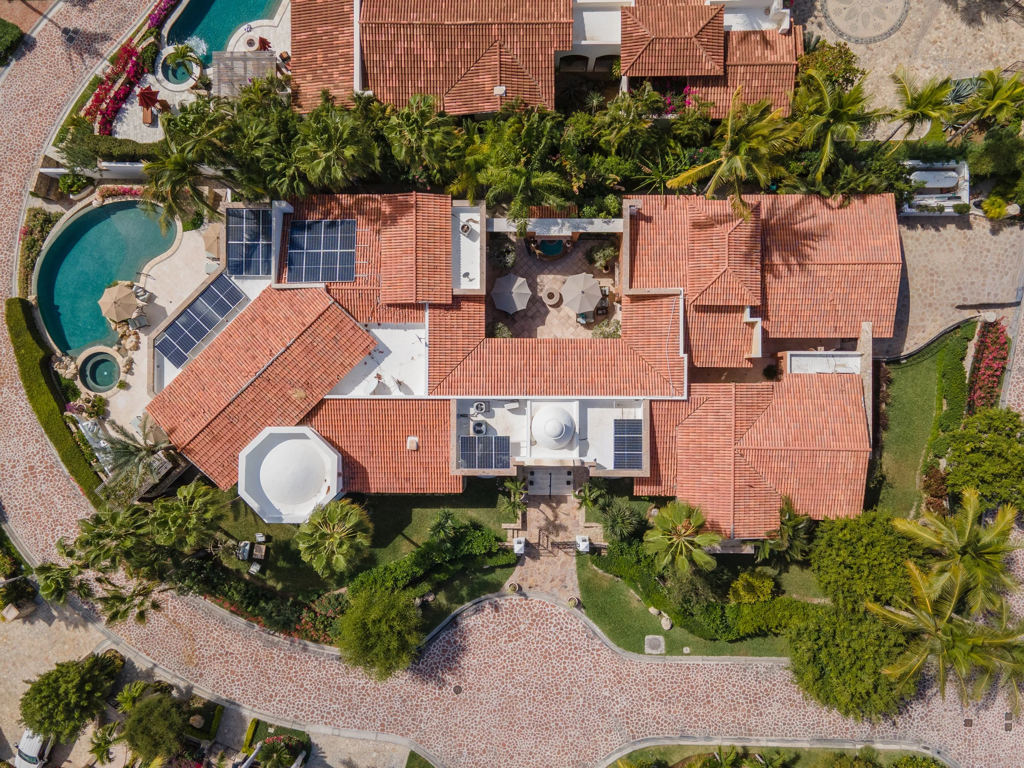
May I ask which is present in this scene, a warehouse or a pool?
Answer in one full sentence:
Visible in the photo is a pool.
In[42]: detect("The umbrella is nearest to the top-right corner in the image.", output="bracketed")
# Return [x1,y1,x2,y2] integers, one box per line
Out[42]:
[561,272,602,313]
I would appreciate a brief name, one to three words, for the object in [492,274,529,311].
umbrella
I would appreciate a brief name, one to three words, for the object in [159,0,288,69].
swimming pool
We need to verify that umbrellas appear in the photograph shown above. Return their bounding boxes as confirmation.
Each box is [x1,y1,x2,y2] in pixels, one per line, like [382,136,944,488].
[256,36,280,64]
[199,218,220,259]
[137,87,163,114]
[561,272,602,313]
[100,283,141,323]
[492,274,529,311]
